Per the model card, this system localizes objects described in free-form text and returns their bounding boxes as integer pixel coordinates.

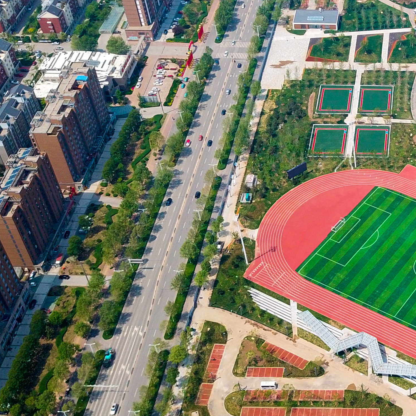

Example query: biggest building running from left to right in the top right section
[293,7,340,30]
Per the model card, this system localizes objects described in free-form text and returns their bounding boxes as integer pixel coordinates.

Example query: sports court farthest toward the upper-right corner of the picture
[356,85,395,115]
